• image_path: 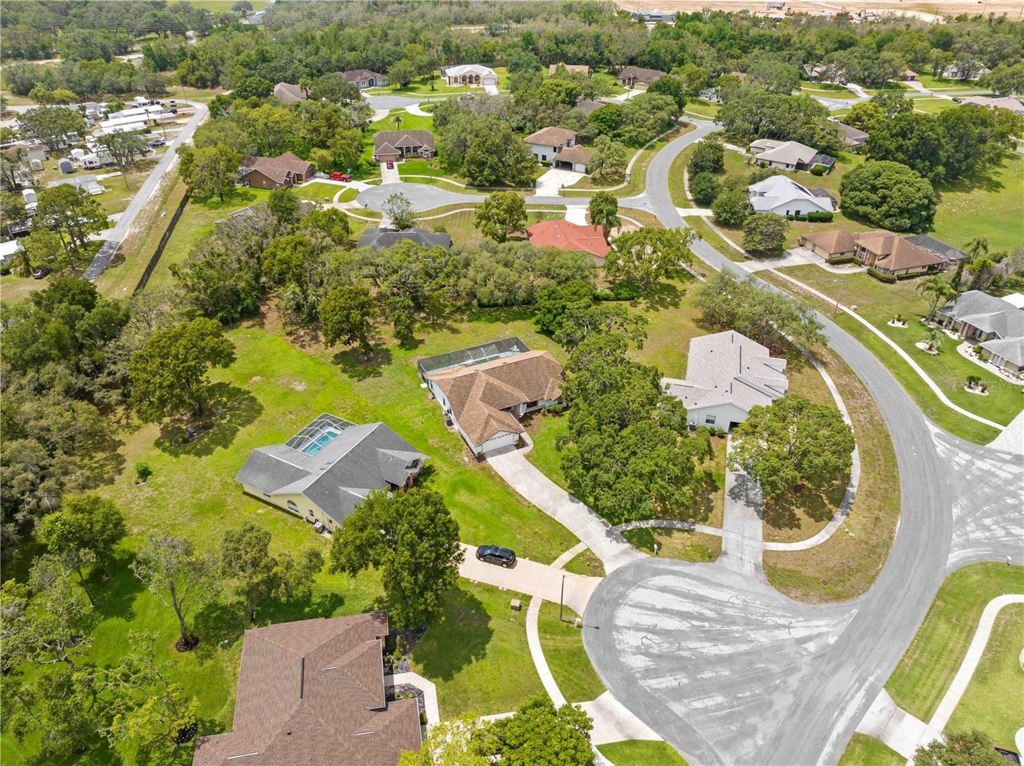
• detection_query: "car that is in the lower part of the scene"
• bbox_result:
[473,542,519,568]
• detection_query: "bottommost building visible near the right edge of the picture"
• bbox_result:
[936,292,1024,379]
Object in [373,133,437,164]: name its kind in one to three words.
house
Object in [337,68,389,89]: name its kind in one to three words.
house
